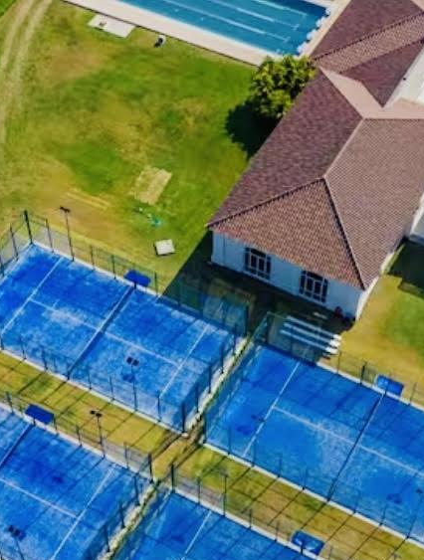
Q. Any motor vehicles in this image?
No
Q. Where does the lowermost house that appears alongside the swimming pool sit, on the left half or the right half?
right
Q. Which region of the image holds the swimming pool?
top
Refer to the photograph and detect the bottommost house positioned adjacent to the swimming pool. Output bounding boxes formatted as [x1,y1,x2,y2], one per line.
[205,68,424,317]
